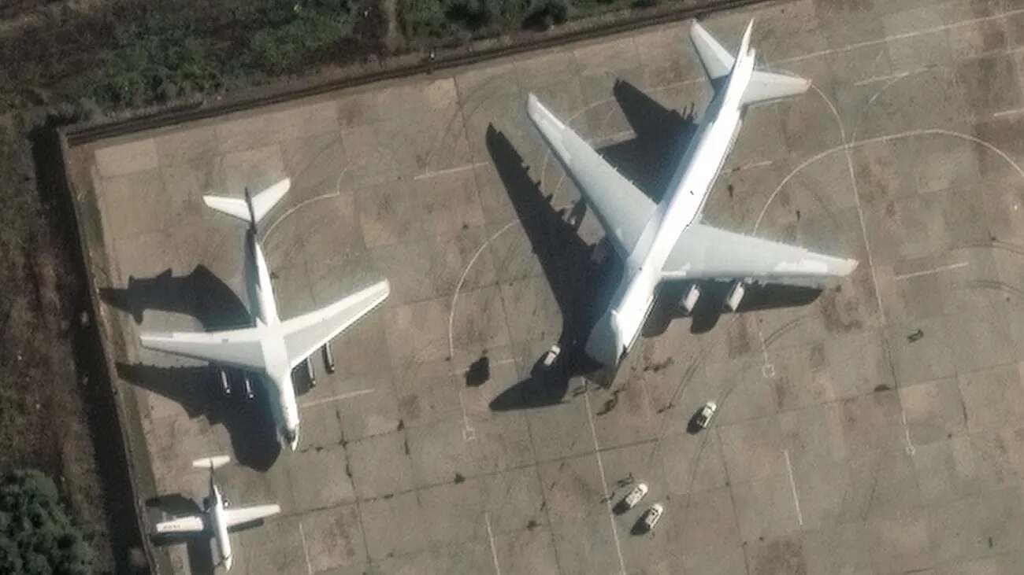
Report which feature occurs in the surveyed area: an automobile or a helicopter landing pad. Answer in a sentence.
It is an automobile that can be seen here.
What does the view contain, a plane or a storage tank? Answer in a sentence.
Of the two, only a plane appears.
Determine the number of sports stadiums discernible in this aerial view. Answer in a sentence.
The photo contains no sports stadiums.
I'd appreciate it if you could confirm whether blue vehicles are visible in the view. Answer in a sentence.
No, no blue vehicle is visible in the view.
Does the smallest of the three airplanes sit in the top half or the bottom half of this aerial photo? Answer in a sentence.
The smallest of the three airplanes sits in the bottom half of the picture.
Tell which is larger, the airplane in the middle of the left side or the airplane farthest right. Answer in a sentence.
The airplane farthest right takes up more space than the airplane in the middle of the left side.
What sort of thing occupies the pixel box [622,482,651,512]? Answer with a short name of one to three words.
car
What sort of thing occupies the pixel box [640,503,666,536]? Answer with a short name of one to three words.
car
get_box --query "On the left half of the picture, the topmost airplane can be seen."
[141,179,388,451]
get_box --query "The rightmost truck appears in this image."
[694,401,718,433]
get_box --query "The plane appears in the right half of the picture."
[529,20,857,393]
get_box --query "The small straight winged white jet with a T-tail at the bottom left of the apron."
[157,456,280,573]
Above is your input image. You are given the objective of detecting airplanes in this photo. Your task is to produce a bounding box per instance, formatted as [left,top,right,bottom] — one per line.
[157,456,280,573]
[141,179,388,451]
[529,20,857,393]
